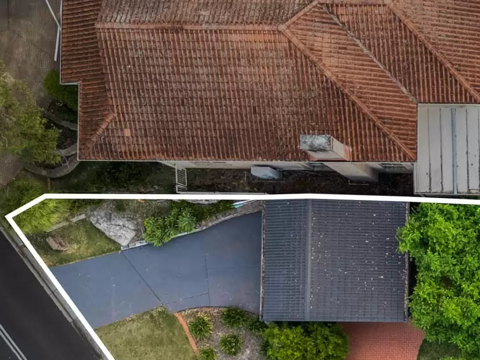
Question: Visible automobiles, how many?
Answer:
none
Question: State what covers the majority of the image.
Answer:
buildings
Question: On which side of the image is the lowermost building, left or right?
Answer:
right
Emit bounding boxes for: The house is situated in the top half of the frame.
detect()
[60,0,480,189]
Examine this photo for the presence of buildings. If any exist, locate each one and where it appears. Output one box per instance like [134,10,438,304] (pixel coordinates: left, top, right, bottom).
[60,0,480,189]
[258,196,411,322]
